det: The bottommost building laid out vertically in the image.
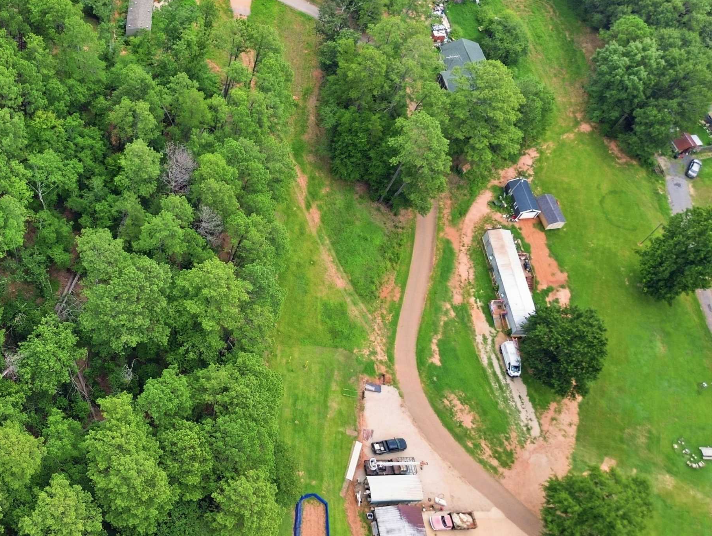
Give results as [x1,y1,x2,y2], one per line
[477,229,539,338]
